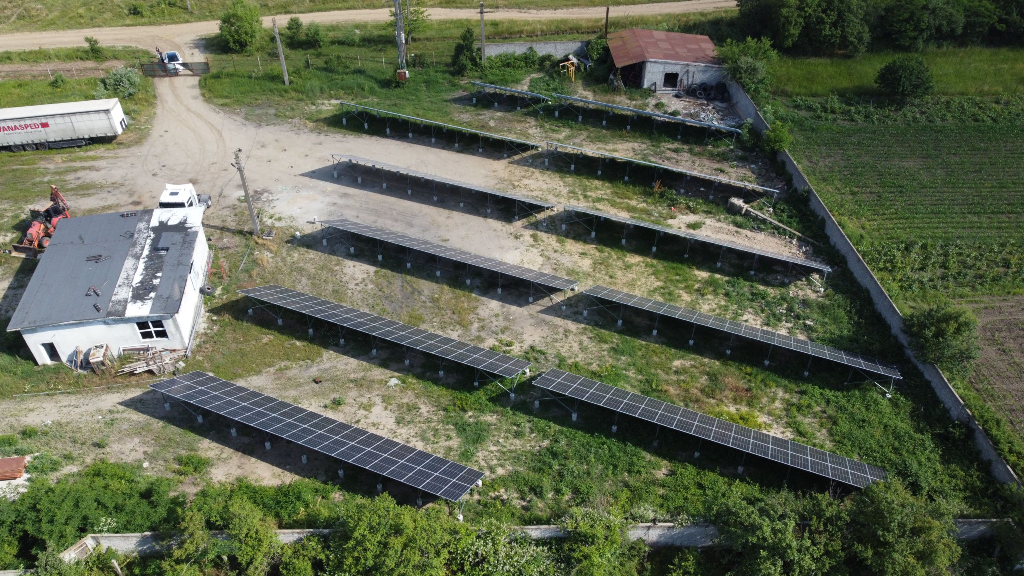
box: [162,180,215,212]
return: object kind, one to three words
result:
truck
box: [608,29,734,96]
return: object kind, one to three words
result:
barn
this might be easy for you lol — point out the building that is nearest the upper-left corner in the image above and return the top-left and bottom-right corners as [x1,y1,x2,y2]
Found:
[6,208,208,365]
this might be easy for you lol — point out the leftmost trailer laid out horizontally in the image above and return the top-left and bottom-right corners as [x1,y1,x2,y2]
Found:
[0,100,125,151]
